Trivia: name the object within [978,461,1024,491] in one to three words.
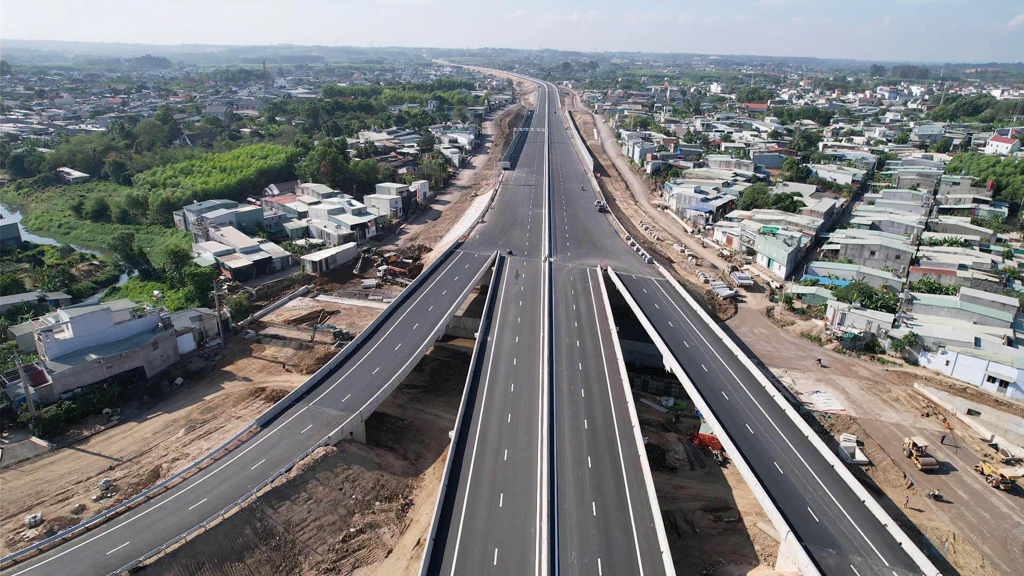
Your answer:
work vehicle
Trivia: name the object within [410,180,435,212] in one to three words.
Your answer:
house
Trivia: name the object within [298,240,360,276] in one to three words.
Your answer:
house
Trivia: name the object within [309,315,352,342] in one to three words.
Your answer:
work vehicle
